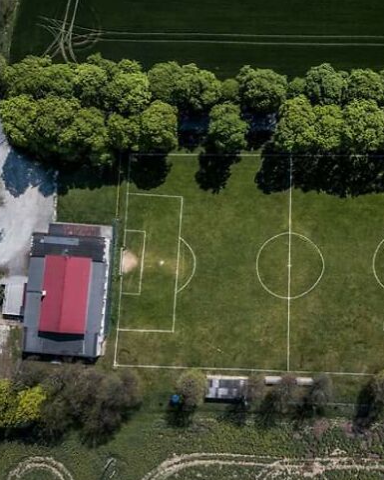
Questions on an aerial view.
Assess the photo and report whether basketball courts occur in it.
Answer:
No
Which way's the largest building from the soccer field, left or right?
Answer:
on the left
